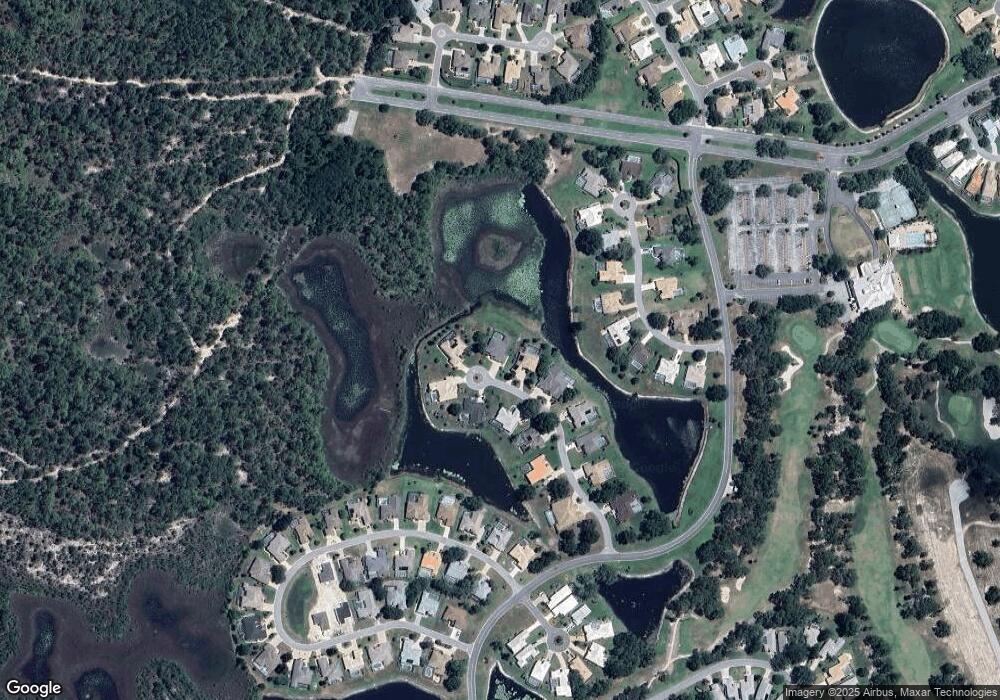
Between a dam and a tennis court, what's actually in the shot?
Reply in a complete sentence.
Looking from above, you can make out a tennis court.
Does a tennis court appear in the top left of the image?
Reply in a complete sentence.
No, looking in the top left of the image, there is no tennis court.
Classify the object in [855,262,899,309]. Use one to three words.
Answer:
building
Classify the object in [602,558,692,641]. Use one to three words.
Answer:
pond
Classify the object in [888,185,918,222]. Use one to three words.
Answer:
tennis court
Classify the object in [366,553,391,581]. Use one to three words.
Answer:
house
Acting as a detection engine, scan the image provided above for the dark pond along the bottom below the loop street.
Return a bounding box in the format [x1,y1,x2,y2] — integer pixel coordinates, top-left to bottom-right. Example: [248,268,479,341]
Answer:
[261,678,445,700]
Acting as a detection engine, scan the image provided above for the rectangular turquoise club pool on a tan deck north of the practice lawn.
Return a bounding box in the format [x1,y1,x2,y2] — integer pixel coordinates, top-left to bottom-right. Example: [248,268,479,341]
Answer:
[889,221,937,249]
